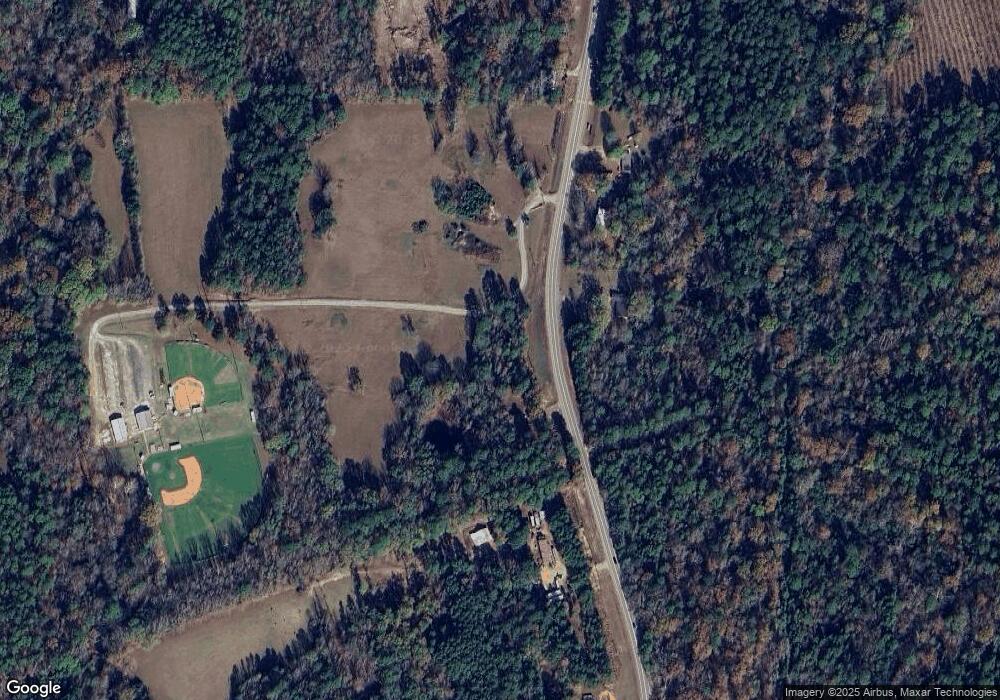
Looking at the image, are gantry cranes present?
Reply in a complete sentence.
No, I find no gantry crane anywhere in the image.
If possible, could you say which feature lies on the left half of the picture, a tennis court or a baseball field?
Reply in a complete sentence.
The feature located on the left half of the picture is a baseball field.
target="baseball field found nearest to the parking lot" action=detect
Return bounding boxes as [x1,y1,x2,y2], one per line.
[165,344,243,413]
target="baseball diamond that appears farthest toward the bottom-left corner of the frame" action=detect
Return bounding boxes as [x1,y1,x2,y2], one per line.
[146,436,265,561]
